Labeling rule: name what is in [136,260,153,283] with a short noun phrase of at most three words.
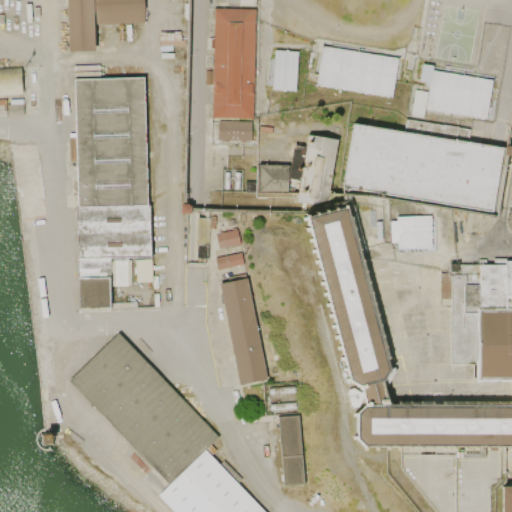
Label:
shed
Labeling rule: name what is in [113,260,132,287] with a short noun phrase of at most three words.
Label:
shed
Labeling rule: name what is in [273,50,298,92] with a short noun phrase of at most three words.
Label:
building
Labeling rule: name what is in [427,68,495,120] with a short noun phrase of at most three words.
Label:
building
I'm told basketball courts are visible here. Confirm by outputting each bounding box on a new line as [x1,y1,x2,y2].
[437,6,480,64]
